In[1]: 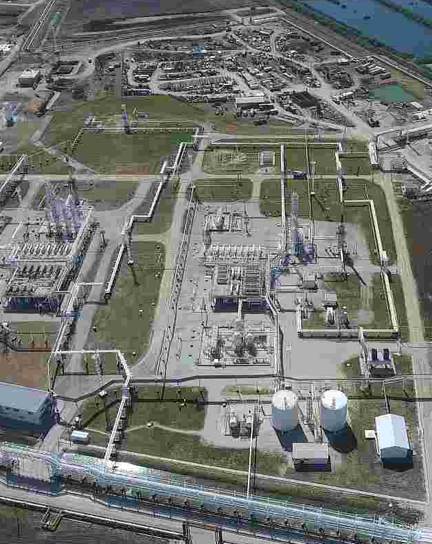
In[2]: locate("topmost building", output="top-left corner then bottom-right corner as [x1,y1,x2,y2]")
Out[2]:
[15,67,46,85]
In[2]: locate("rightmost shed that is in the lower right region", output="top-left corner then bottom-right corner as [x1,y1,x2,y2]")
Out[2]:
[375,412,415,464]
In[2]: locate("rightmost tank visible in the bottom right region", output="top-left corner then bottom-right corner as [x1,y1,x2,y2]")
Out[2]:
[319,387,349,434]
